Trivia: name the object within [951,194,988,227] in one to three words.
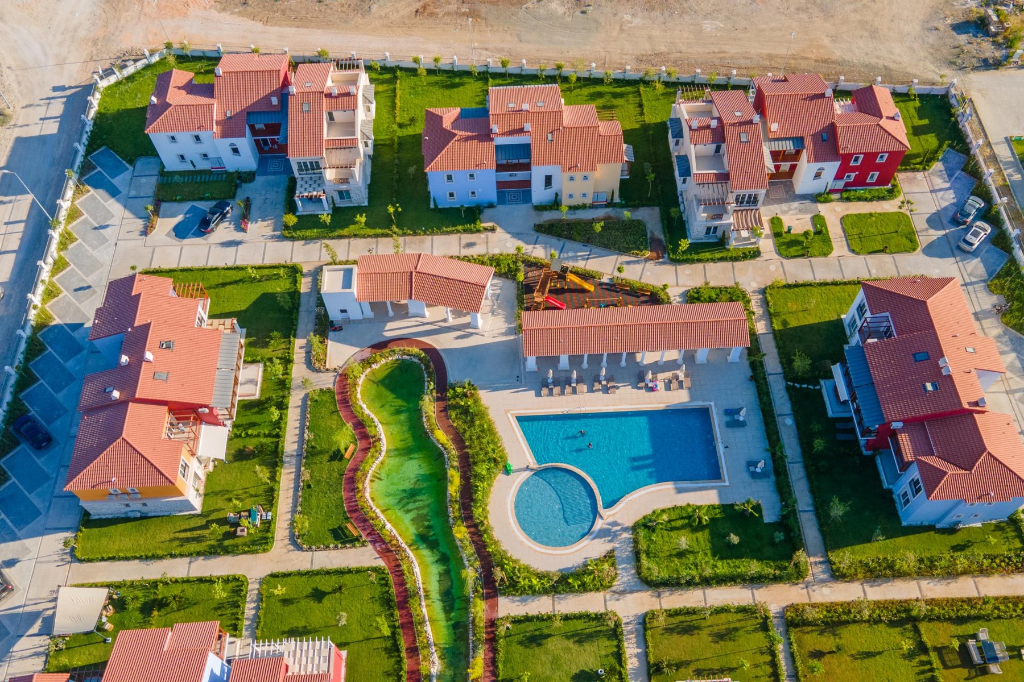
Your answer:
car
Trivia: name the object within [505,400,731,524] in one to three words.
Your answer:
swimming pool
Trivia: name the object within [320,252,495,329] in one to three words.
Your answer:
building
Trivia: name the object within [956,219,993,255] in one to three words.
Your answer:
car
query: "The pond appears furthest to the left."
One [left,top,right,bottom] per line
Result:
[360,360,471,682]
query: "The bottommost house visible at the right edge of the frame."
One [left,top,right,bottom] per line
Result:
[817,276,1024,529]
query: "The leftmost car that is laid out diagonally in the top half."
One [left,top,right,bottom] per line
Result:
[194,198,236,234]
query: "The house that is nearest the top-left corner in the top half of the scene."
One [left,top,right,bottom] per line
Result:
[144,54,385,215]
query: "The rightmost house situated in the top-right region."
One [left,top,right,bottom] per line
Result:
[659,70,913,242]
